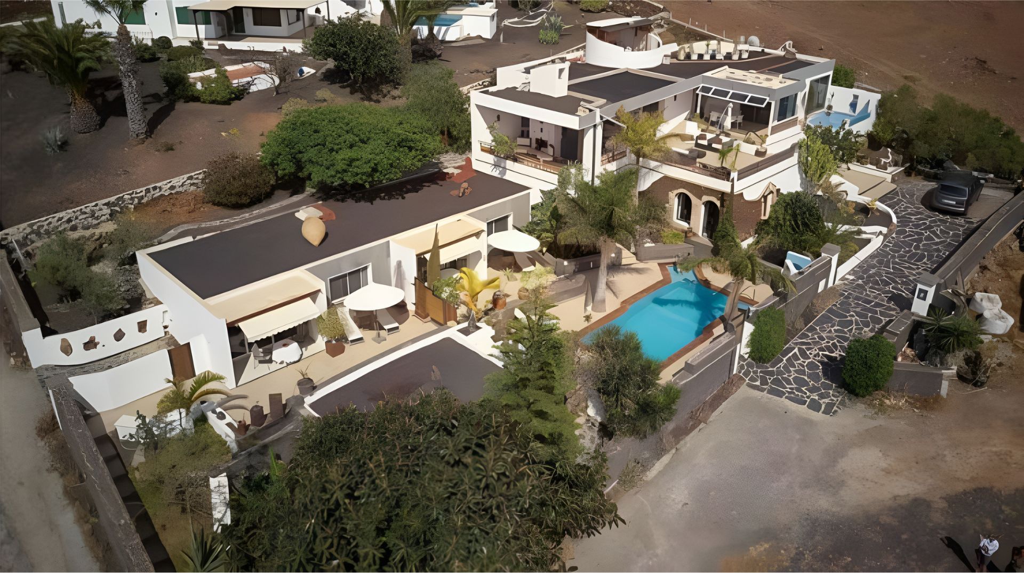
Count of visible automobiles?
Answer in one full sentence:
The picture shows 1 automobile.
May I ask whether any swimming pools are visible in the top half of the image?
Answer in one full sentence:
Yes, you'll find a swimming pool in the top half of the image.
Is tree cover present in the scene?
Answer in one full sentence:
Yes, the picture does contain tree cover.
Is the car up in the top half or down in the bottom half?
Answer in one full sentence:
The car sits in the top half of the picture.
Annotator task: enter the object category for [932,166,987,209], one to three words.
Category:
car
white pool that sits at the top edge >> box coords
[411,0,499,40]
